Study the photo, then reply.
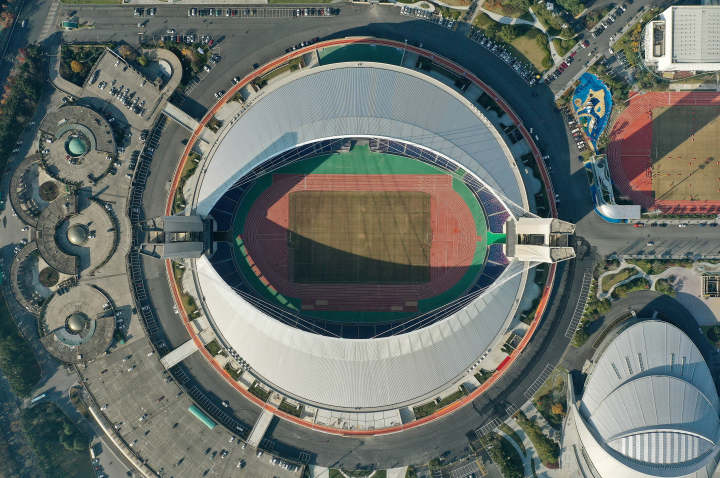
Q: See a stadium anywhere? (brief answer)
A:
Yes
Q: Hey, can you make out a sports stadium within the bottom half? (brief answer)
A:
Yes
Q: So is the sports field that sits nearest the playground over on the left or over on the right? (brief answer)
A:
right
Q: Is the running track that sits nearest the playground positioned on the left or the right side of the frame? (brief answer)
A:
right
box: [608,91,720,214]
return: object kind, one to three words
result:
running track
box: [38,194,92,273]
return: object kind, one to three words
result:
building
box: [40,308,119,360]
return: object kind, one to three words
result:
building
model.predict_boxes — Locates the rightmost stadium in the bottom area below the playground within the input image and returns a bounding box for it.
[563,318,720,478]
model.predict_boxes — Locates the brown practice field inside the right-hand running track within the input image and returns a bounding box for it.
[652,106,720,200]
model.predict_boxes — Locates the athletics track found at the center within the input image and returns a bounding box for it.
[243,174,480,311]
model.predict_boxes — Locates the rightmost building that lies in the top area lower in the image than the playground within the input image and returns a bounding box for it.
[586,155,641,222]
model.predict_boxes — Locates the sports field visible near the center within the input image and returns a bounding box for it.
[288,192,432,285]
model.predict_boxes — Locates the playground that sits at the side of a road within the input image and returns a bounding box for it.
[572,72,612,153]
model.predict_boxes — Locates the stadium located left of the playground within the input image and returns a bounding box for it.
[139,40,576,433]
